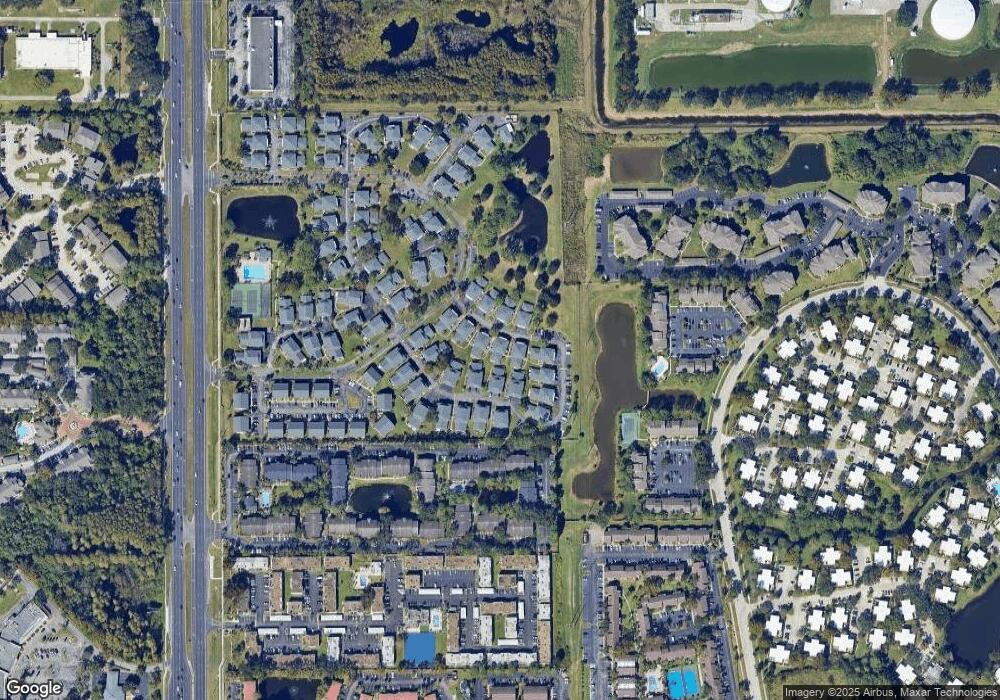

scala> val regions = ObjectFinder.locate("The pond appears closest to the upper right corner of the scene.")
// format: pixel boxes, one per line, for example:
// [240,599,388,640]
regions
[900,47,1000,87]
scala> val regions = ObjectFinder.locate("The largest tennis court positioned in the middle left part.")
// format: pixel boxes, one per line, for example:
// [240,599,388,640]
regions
[231,284,261,317]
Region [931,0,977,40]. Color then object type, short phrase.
white storage tank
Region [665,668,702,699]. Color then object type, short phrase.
blue tennis court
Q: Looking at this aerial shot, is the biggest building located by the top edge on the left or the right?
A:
left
